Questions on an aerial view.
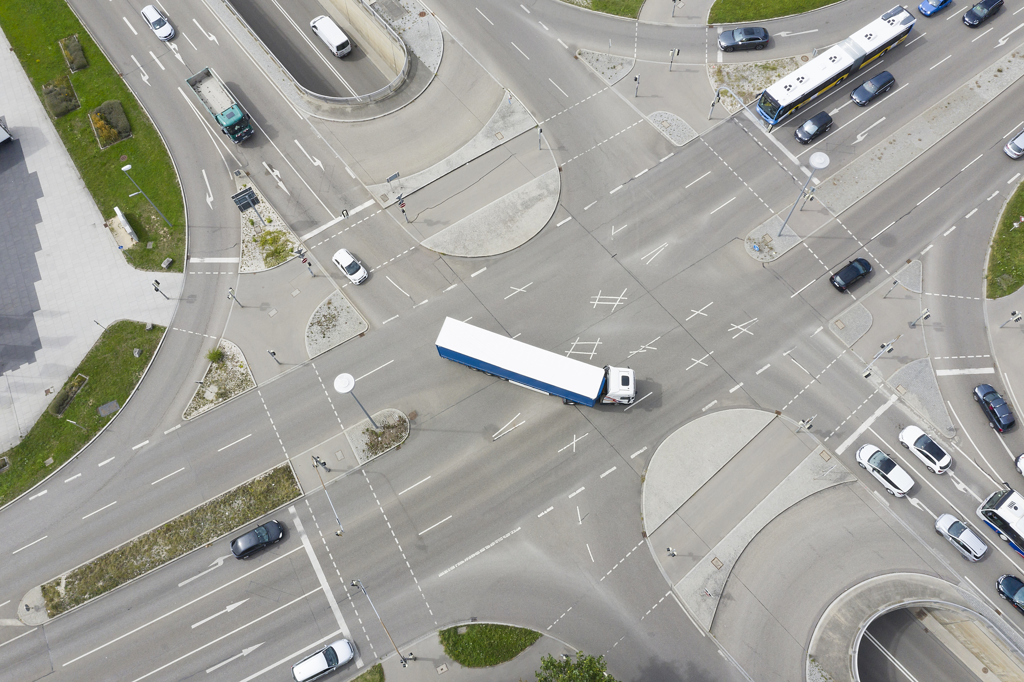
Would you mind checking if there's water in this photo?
No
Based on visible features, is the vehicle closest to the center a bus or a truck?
truck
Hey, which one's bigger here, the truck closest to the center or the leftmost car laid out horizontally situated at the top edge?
the truck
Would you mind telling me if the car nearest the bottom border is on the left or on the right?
left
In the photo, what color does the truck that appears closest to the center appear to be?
white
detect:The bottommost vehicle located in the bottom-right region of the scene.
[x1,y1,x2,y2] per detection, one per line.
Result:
[992,577,1024,619]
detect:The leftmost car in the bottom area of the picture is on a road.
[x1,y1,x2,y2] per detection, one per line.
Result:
[228,521,286,561]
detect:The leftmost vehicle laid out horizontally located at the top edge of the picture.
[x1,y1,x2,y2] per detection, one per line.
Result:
[718,27,770,54]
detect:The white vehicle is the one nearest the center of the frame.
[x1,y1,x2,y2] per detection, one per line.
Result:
[435,317,636,412]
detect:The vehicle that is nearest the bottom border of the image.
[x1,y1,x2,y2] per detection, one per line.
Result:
[289,639,356,682]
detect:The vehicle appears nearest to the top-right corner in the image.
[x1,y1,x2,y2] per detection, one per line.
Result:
[962,0,1007,32]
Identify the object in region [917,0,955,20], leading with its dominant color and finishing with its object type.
blue car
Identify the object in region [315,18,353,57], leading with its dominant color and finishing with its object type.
white van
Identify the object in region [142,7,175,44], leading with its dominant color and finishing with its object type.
white car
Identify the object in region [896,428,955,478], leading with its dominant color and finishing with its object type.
white car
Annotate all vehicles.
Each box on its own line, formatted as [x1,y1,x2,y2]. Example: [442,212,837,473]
[992,577,1024,619]
[1006,133,1024,159]
[333,250,368,288]
[972,383,1024,438]
[435,317,636,412]
[289,639,356,682]
[896,428,955,478]
[315,18,353,57]
[828,262,876,297]
[752,4,916,125]
[932,517,995,570]
[917,0,955,20]
[853,449,915,502]
[718,27,770,54]
[794,111,838,147]
[962,0,1007,32]
[142,7,175,44]
[850,72,898,109]
[228,521,286,561]
[185,66,257,145]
